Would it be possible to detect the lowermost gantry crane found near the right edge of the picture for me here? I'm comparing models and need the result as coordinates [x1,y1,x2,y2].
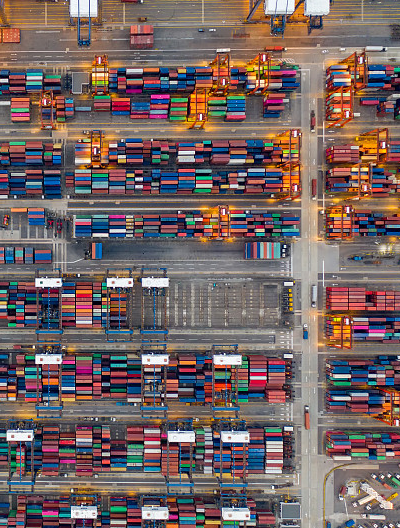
[370,386,400,428]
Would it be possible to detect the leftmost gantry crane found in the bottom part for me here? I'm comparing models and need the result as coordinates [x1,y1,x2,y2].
[5,420,37,494]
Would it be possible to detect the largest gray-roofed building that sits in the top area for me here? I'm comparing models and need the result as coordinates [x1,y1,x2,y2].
[73,71,88,97]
